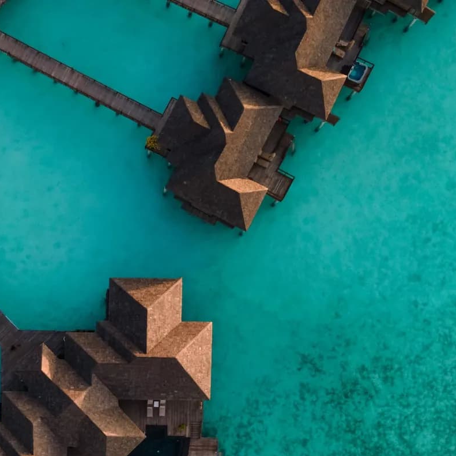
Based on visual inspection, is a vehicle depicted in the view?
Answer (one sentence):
No, there is no vehicle in the image.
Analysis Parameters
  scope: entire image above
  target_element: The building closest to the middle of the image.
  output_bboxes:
[143,77,296,235]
